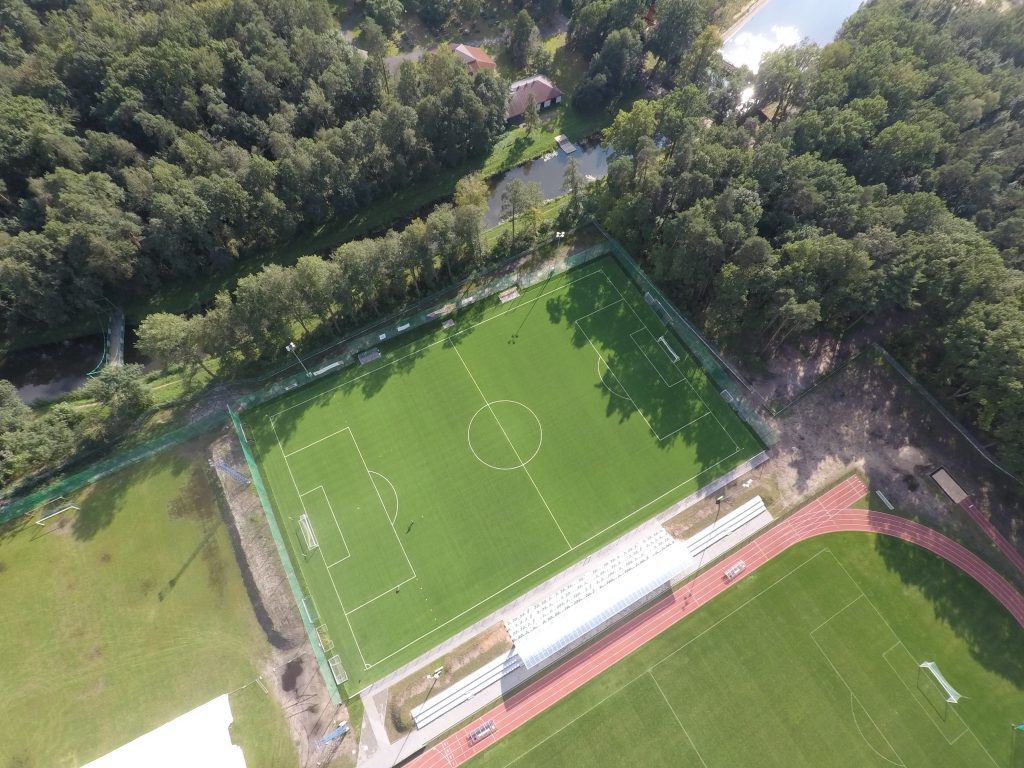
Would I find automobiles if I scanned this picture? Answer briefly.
No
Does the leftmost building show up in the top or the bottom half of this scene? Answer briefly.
bottom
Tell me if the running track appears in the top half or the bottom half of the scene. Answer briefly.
bottom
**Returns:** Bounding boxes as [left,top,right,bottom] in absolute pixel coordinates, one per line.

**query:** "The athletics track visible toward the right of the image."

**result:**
[406,475,869,768]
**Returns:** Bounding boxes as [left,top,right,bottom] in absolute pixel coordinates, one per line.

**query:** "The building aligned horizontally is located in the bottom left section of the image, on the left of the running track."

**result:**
[79,698,244,768]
